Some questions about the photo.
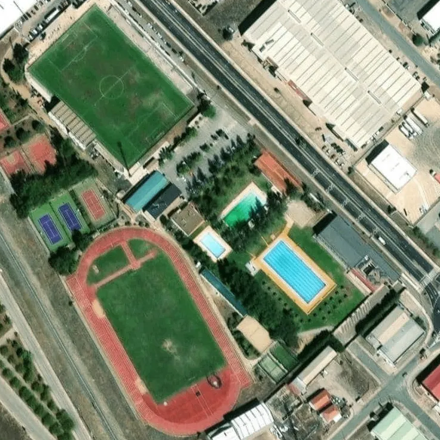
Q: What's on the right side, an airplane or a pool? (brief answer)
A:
pool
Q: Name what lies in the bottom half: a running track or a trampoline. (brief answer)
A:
running track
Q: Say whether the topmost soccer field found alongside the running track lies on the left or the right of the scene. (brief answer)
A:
left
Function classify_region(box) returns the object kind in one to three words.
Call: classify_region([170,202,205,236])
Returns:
building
